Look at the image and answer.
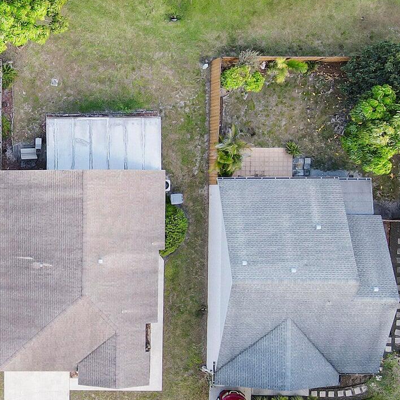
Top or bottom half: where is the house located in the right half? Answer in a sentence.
The house located in the right half sits in the bottom half of the picture.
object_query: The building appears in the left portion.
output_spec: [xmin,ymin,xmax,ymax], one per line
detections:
[0,116,166,389]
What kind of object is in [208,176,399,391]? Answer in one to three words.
house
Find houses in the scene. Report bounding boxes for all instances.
[208,176,399,391]
[0,116,166,389]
